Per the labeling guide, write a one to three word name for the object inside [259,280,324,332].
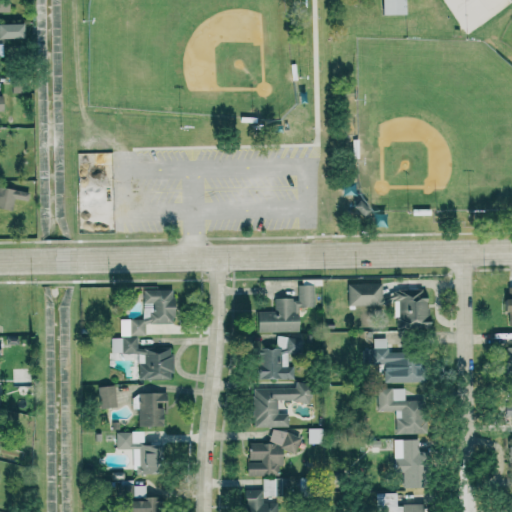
house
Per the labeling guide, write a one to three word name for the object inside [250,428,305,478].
house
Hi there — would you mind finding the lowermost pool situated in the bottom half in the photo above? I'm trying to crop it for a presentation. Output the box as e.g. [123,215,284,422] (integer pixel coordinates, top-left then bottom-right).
[100,448,134,470]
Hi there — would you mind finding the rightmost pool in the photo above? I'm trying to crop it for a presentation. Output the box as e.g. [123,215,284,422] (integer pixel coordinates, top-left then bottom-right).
[282,402,315,420]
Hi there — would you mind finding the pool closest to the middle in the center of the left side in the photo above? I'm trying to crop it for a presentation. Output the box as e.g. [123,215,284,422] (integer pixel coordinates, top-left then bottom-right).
[126,296,144,318]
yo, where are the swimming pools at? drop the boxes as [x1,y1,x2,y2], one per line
[282,402,315,420]
[126,296,144,318]
[110,354,140,380]
[110,406,135,431]
[100,448,134,470]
